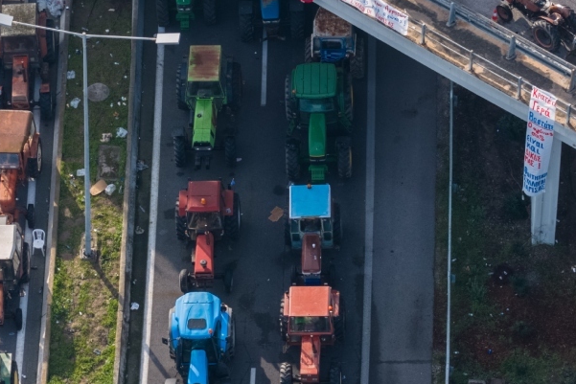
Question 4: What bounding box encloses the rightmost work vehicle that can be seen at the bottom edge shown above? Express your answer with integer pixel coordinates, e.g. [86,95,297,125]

[279,283,346,384]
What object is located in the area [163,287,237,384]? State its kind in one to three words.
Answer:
work vehicle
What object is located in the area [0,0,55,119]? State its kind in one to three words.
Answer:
work vehicle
